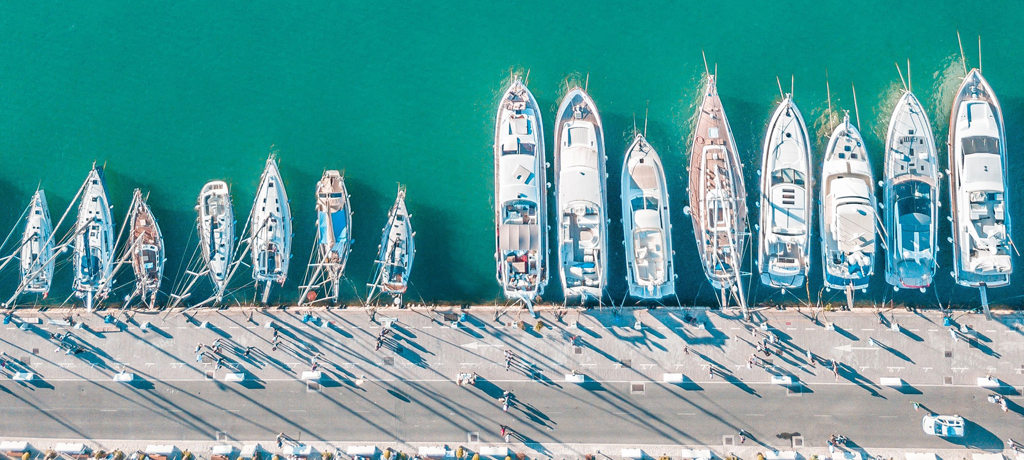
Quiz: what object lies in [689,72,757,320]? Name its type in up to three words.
boat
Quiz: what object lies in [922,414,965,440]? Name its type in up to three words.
car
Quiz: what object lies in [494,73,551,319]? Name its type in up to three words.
boat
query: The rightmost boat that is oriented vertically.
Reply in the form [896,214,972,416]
[948,67,1020,321]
